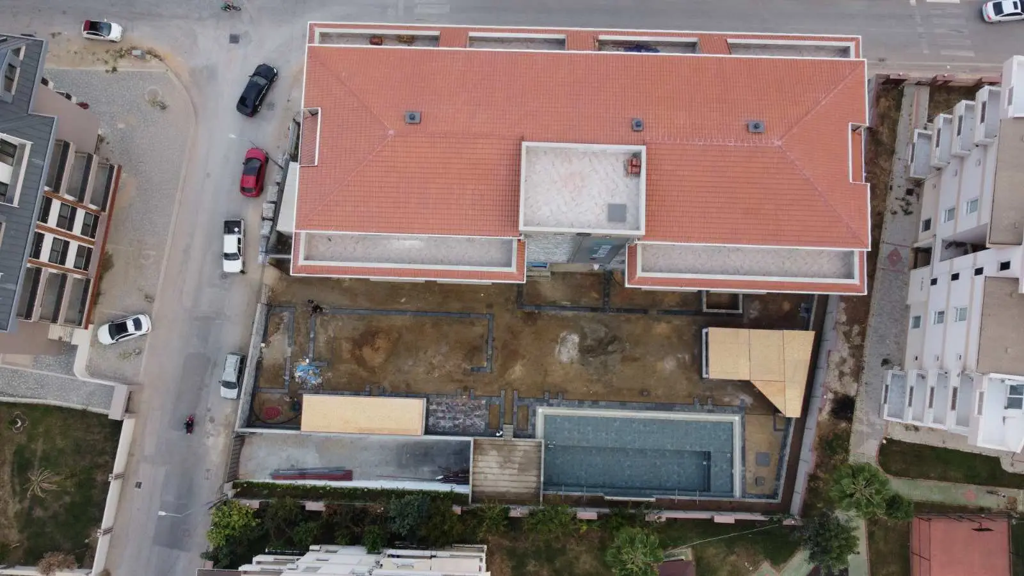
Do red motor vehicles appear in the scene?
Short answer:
Yes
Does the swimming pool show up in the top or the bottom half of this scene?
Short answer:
bottom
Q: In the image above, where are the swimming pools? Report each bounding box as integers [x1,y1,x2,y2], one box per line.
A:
[538,408,742,506]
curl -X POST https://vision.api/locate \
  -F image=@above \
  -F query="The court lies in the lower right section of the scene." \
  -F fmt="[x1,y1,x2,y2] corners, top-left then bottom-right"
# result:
[913,517,1012,576]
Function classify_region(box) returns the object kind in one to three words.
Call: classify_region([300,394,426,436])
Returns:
shed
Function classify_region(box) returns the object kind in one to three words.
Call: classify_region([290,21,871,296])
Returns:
house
